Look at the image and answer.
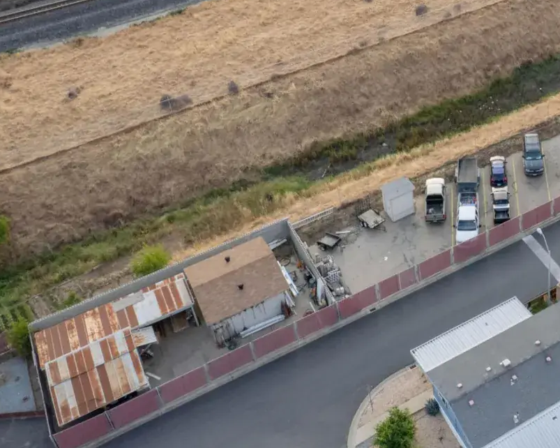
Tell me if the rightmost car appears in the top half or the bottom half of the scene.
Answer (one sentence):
You can find the rightmost car in the top half.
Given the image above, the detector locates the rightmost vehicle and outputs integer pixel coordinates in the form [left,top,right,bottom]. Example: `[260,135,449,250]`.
[520,130,546,172]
